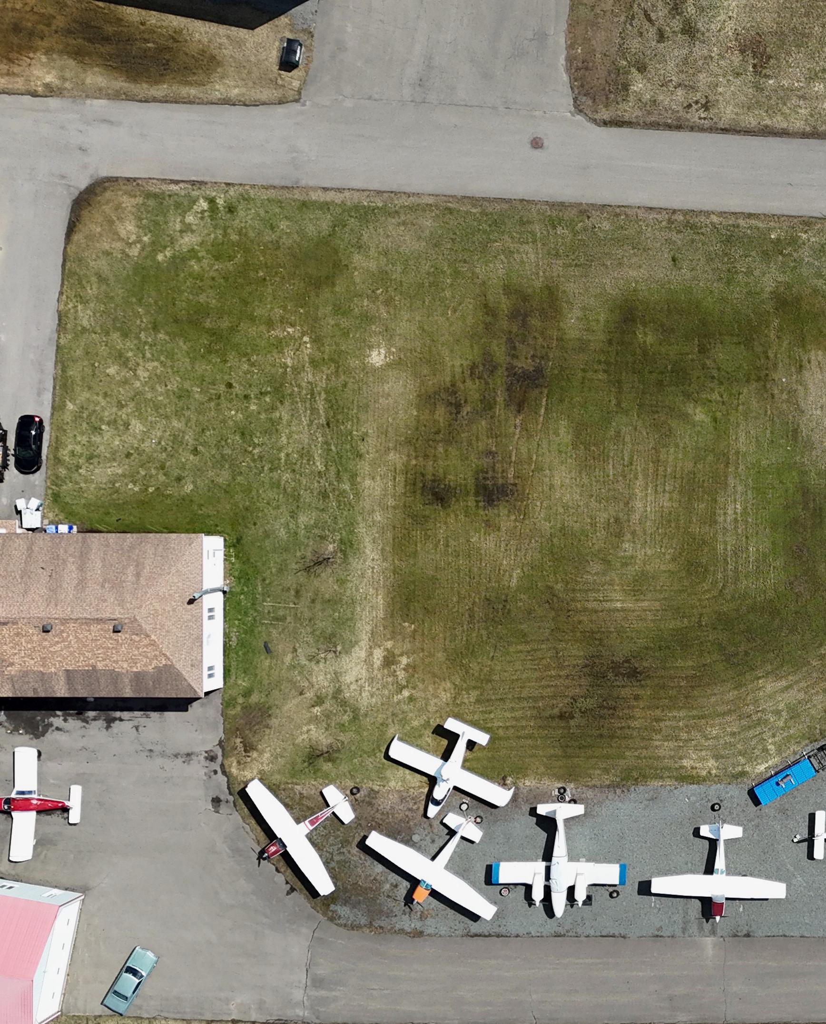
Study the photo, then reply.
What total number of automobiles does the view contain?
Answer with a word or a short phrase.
2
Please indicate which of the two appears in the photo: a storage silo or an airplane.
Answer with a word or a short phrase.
airplane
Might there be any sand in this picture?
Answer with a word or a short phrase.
No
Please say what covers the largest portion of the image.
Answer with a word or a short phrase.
grass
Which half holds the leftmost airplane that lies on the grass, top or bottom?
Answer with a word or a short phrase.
bottom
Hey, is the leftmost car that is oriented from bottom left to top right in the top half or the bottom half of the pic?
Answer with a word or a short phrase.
bottom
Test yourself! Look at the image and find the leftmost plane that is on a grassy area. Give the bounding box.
[245,778,354,898]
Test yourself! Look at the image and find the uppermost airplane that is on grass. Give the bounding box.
[390,717,516,819]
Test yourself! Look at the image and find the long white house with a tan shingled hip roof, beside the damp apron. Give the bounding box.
[0,519,231,698]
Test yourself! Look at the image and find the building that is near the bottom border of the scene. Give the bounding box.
[0,878,87,1024]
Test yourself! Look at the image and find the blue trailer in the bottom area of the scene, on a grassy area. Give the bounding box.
[752,742,826,805]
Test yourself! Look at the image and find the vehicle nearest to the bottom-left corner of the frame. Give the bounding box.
[102,947,157,1016]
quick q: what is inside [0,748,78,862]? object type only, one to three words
airplane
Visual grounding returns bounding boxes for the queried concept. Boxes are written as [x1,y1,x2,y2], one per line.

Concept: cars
[102,947,157,1016]
[12,415,44,472]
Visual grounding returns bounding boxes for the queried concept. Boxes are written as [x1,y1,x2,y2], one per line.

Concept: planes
[651,824,787,923]
[492,804,627,918]
[814,810,826,859]
[0,748,78,862]
[390,717,516,819]
[367,811,496,921]
[245,778,354,898]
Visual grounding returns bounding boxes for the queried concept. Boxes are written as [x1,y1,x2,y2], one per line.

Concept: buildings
[0,519,231,698]
[0,878,87,1024]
